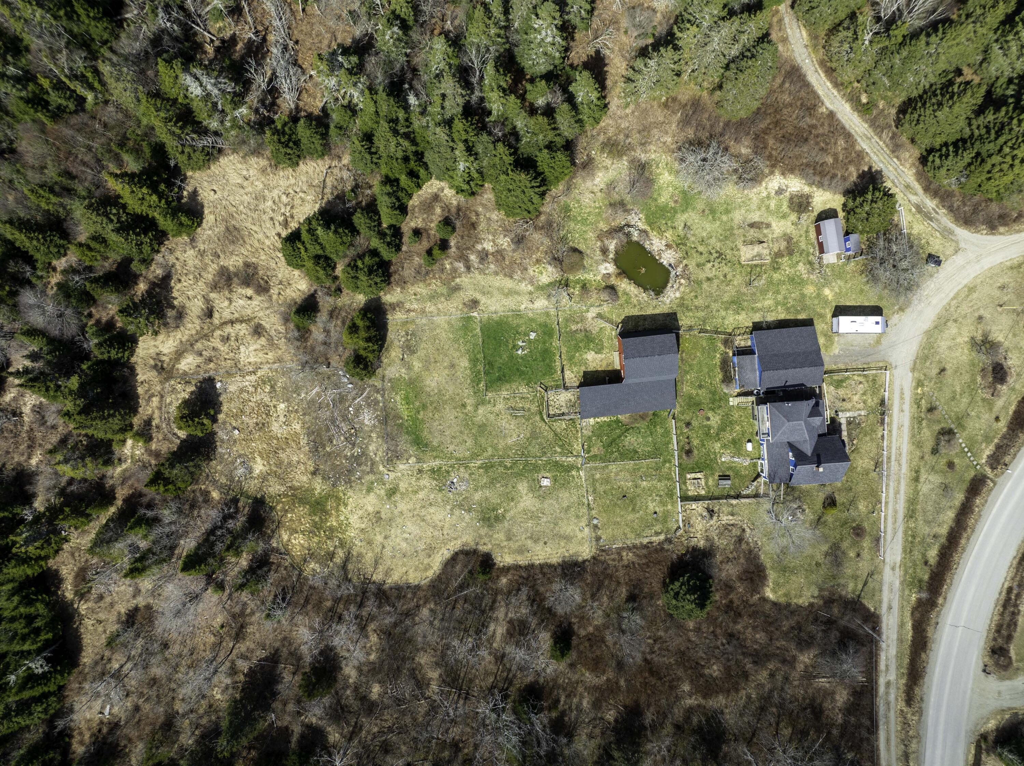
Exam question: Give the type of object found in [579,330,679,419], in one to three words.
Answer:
barn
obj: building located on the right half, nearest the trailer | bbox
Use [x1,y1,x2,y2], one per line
[751,327,824,391]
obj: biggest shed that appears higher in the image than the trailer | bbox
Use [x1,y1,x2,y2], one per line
[814,218,843,256]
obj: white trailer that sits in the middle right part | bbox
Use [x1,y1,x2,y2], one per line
[830,316,883,334]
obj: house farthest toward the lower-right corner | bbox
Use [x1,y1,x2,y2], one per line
[757,400,851,486]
